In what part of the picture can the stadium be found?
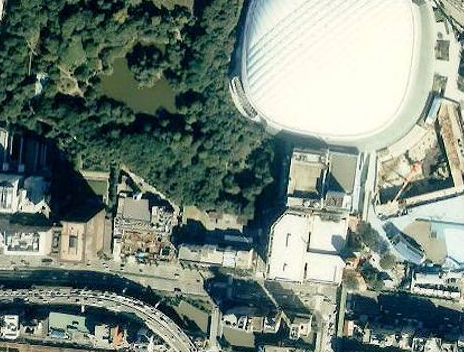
top right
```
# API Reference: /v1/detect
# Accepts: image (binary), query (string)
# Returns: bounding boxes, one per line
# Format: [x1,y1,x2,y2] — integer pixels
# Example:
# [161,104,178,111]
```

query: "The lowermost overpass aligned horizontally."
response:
[0,287,192,352]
